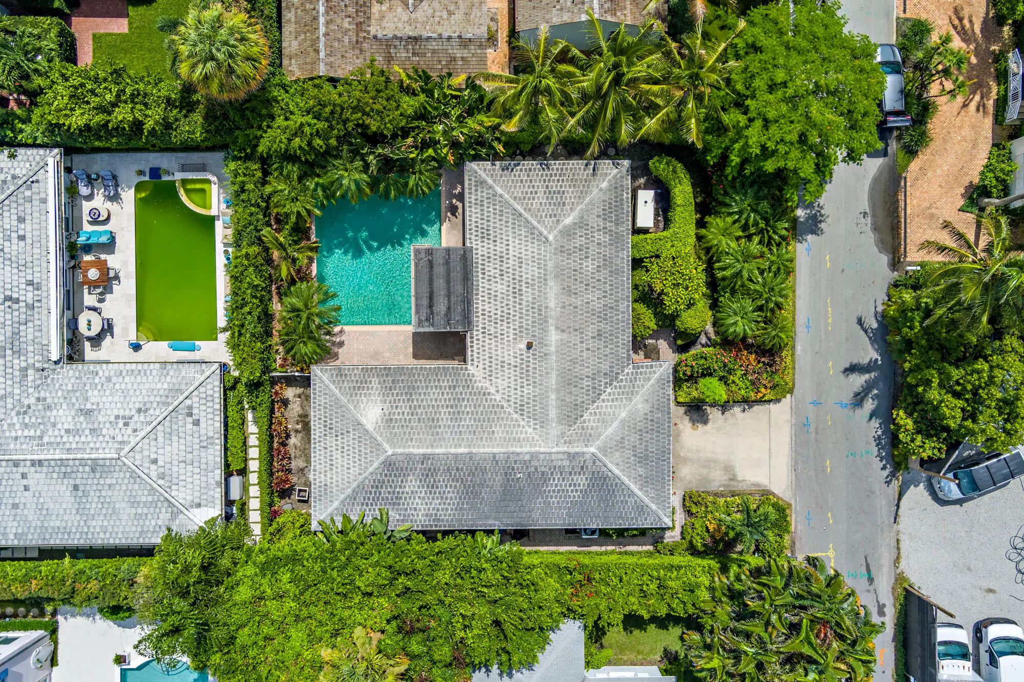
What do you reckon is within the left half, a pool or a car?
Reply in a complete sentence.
The feature located within the left half is a pool.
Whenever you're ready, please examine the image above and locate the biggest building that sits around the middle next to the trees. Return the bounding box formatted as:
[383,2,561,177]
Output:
[309,159,673,530]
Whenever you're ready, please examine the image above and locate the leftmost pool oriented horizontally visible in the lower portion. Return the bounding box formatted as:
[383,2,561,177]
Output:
[121,660,208,682]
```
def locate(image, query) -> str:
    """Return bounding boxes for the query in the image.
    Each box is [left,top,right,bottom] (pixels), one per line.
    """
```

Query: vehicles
[863,44,906,128]
[937,618,974,682]
[980,617,1024,682]
[927,454,1021,507]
